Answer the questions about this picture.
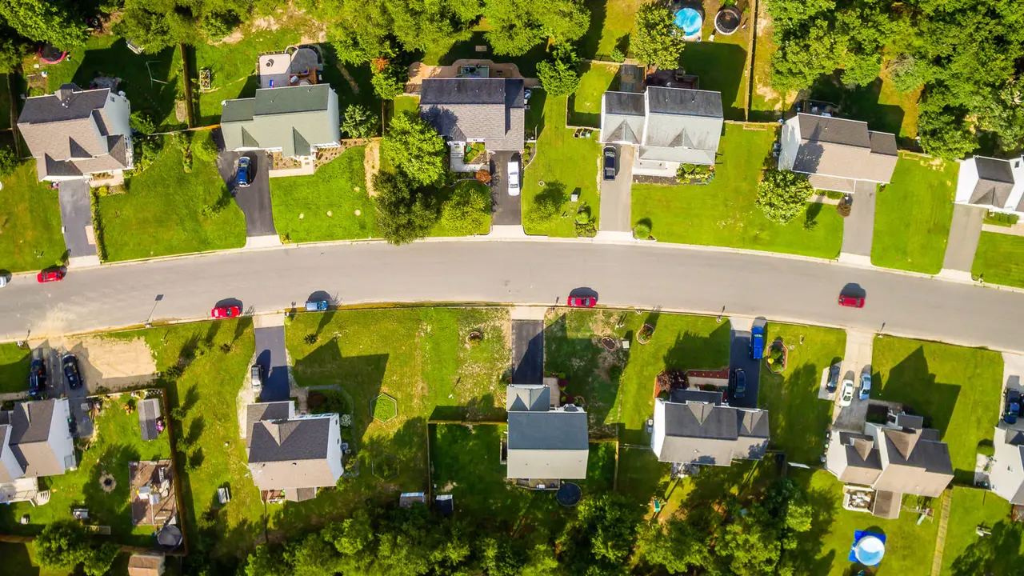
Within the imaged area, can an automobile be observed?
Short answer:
Yes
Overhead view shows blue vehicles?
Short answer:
Yes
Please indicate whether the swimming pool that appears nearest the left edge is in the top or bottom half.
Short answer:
bottom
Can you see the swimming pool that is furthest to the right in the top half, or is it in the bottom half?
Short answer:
bottom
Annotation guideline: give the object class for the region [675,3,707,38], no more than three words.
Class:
swimming pool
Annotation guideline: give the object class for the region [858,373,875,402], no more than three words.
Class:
car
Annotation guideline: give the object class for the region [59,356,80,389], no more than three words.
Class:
car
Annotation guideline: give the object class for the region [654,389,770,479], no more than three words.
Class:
house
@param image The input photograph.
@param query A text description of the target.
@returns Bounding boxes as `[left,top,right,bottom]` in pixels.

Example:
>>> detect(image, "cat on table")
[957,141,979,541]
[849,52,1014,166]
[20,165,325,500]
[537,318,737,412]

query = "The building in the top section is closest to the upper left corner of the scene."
[17,83,132,186]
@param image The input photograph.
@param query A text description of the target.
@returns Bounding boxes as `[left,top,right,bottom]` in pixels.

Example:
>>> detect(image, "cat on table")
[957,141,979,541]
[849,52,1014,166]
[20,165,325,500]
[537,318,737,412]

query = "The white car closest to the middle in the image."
[507,158,521,191]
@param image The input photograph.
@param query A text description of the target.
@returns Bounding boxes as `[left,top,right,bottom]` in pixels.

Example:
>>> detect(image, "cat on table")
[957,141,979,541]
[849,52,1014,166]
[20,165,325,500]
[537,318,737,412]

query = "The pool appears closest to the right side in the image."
[849,532,884,564]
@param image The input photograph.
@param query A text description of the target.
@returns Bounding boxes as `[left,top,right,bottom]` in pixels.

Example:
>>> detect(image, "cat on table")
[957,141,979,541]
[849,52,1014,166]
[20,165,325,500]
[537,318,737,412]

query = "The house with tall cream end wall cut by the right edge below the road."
[982,428,1024,522]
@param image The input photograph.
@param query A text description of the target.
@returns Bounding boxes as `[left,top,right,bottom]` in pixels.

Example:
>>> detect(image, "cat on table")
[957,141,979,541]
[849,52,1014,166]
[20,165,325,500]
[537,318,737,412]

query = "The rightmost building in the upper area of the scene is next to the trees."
[950,155,1024,219]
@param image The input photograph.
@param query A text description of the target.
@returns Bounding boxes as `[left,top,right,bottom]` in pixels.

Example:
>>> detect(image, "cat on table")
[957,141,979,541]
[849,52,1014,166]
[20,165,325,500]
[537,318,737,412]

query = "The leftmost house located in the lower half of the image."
[0,397,75,506]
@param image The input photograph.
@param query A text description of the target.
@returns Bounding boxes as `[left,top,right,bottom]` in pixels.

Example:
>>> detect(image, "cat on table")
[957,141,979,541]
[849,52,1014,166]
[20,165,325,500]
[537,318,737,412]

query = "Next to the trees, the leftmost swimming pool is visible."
[555,479,580,505]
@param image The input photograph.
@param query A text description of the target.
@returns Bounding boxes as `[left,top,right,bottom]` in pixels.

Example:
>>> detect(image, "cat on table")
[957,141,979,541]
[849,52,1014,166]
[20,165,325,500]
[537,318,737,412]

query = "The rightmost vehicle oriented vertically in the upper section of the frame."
[604,147,617,179]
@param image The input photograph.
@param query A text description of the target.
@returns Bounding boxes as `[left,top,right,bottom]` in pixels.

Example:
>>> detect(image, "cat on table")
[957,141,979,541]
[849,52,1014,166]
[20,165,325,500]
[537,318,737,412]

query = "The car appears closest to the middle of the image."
[569,295,597,308]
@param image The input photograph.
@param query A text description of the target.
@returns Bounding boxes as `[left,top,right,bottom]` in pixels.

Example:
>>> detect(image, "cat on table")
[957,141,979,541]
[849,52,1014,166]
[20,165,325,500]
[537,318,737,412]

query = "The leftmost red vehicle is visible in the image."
[34,269,62,282]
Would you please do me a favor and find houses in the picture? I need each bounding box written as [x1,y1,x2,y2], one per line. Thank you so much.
[220,84,341,164]
[950,155,1024,219]
[779,113,898,194]
[419,79,524,158]
[499,383,589,490]
[827,406,954,519]
[17,83,132,186]
[654,389,770,479]
[600,86,723,167]
[245,395,341,505]
[982,428,1024,522]
[0,397,75,506]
